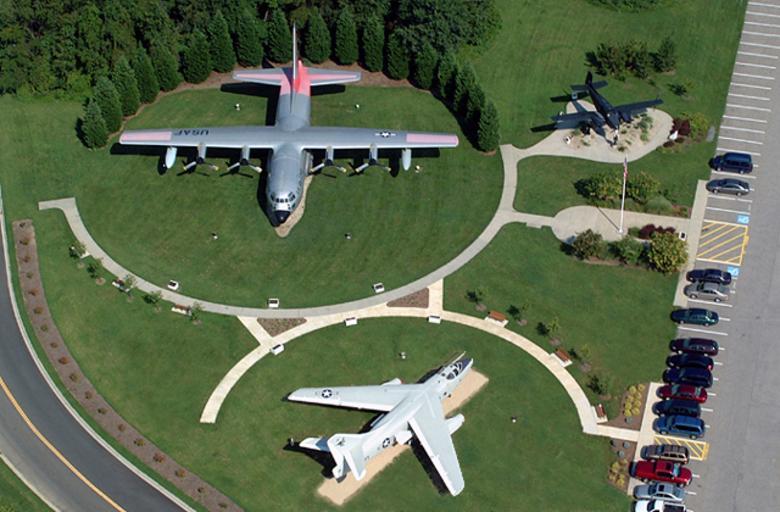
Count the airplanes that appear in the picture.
three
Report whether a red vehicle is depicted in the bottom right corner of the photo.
Yes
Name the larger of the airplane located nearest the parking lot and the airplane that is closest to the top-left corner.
the airplane that is closest to the top-left corner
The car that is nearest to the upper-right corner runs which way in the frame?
from left to right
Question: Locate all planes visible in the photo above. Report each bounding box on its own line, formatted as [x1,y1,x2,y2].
[548,71,661,155]
[284,353,473,493]
[120,24,456,222]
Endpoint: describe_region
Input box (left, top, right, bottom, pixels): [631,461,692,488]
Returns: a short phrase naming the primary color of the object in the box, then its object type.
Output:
red truck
